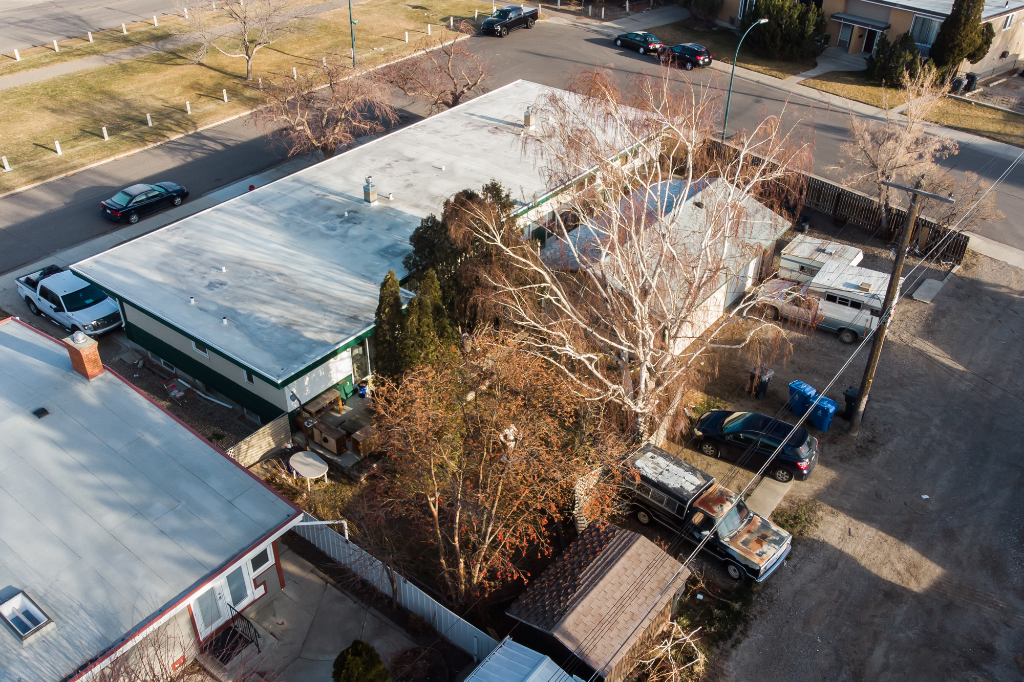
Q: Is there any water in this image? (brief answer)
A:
No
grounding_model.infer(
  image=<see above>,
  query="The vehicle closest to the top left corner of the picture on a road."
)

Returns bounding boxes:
[93,178,191,222]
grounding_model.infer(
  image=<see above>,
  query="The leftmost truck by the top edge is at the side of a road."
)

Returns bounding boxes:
[477,3,537,37]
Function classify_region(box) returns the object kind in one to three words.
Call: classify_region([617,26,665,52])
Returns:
car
